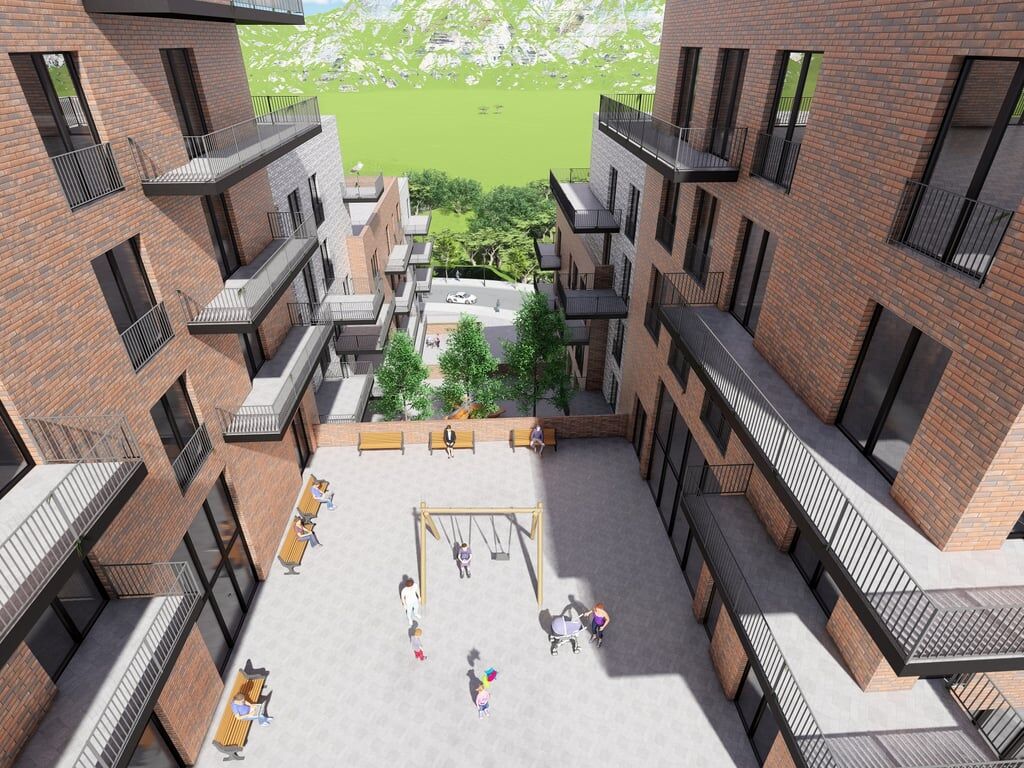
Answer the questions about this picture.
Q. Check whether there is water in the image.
No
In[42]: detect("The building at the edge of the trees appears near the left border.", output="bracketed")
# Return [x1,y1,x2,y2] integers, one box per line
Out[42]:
[0,0,337,768]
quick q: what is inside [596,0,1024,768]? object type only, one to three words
building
